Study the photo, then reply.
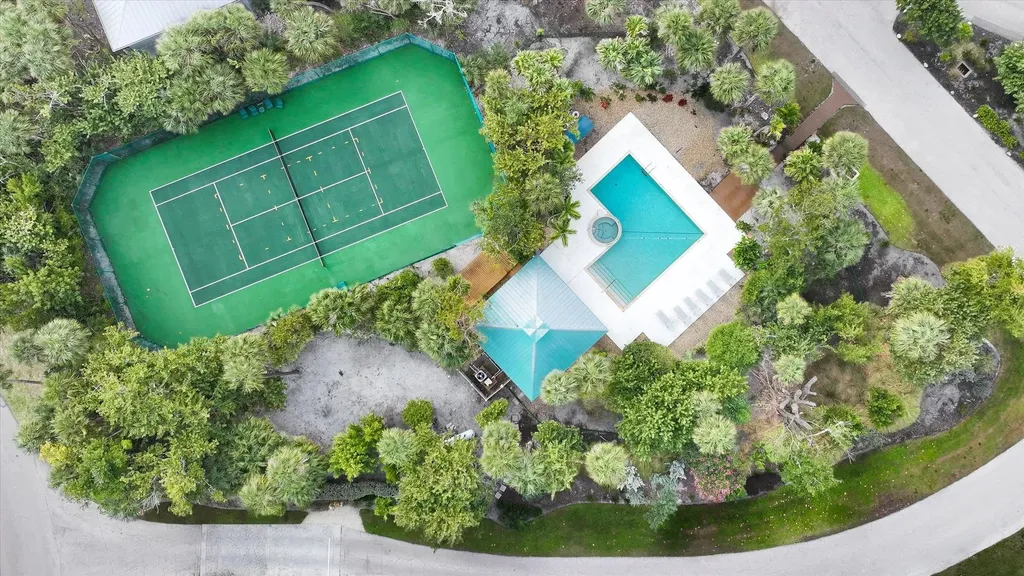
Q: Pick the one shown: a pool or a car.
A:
pool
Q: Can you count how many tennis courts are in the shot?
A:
one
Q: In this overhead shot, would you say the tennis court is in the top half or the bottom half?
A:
top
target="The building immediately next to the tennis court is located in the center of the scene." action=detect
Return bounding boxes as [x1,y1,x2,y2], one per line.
[462,254,608,402]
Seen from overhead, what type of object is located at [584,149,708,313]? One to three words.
swimming pool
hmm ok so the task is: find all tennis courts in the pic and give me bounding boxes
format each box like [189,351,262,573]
[89,44,495,349]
